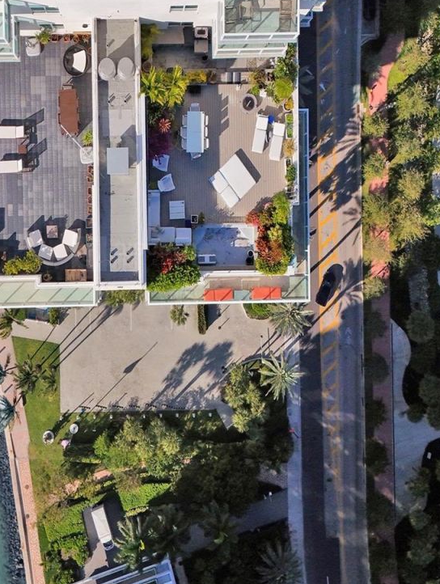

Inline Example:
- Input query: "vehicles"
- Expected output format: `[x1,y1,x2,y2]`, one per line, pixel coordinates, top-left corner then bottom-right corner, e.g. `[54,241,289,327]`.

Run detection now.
[315,266,342,304]
[361,0,376,21]
[90,501,115,549]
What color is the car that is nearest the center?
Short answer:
black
